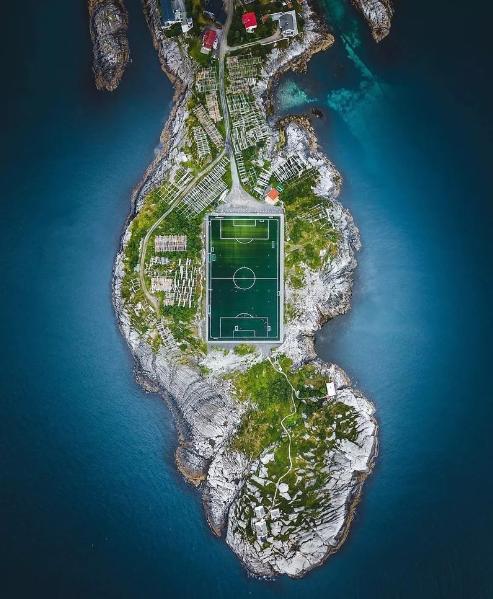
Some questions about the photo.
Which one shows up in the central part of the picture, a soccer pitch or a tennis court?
soccer pitch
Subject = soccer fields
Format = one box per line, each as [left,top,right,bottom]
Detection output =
[206,213,284,343]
